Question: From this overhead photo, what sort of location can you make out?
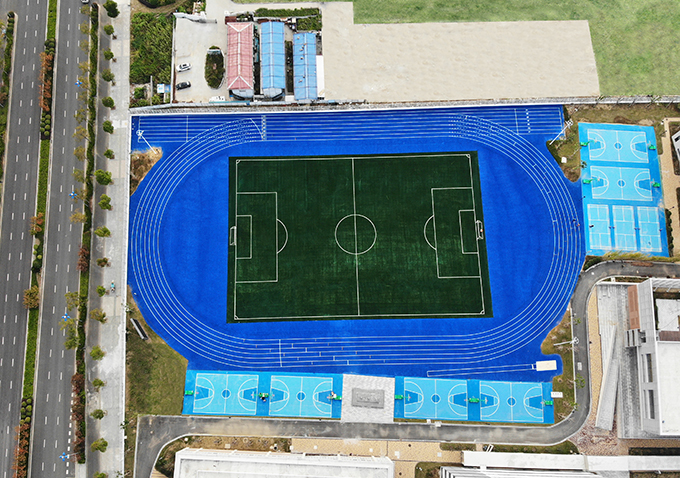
sports ground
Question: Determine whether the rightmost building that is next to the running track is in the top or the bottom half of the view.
bottom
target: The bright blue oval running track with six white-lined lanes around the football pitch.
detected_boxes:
[128,105,587,382]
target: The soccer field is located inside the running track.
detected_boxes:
[226,151,493,323]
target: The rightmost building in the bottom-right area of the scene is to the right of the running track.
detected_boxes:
[590,277,680,439]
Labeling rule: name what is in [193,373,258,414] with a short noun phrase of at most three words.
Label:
basketball court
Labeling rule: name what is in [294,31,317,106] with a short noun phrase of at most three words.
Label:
shed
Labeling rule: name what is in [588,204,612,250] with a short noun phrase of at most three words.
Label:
sports court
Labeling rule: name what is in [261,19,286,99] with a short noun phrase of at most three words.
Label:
shed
